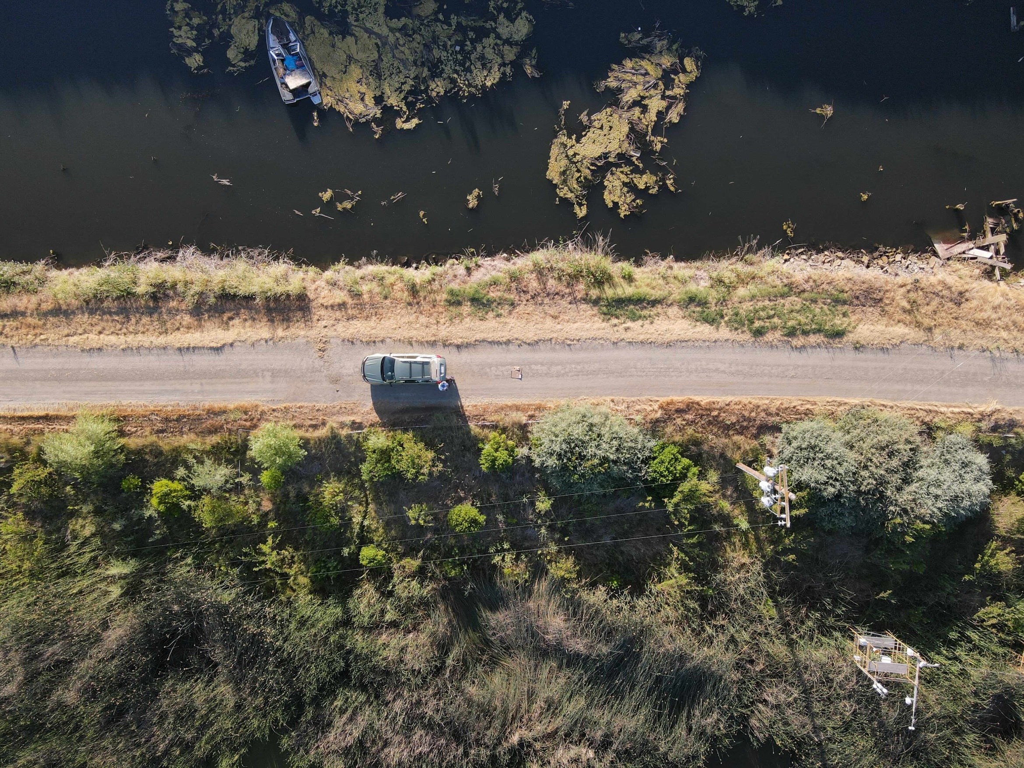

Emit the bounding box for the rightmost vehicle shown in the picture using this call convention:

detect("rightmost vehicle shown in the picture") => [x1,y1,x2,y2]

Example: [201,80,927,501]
[360,350,447,388]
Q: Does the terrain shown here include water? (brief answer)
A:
Yes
